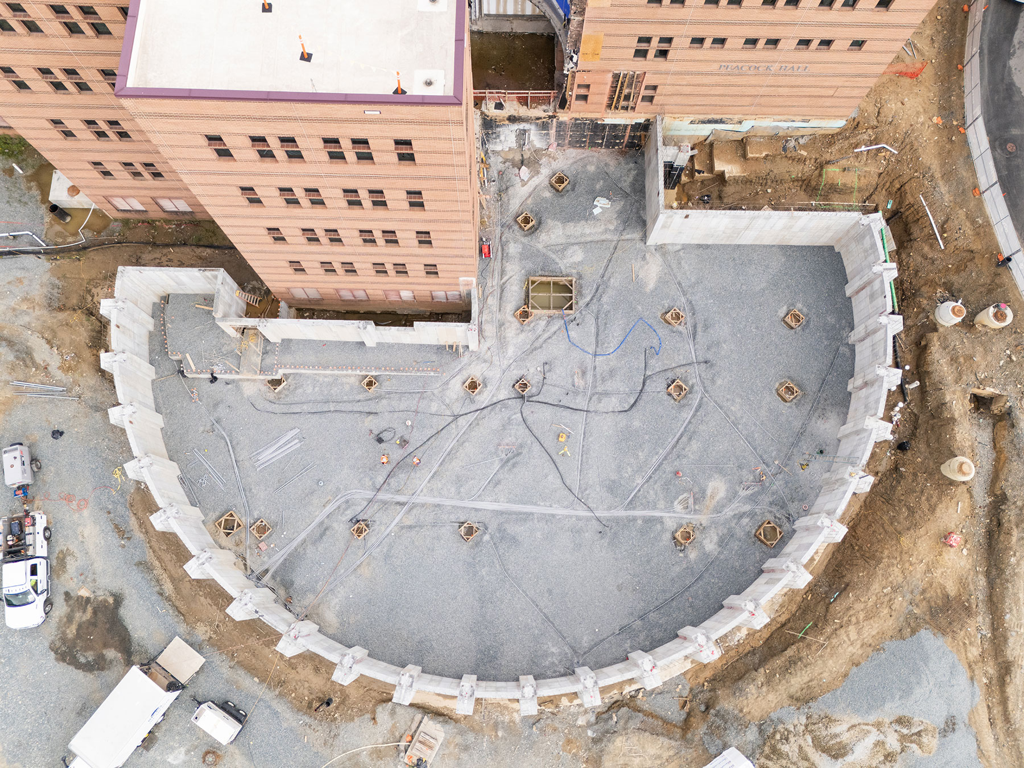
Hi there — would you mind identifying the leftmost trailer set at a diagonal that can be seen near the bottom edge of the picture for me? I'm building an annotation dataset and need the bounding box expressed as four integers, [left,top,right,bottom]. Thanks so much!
[69,630,211,768]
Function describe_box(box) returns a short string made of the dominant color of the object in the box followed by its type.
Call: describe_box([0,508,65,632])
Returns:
white truck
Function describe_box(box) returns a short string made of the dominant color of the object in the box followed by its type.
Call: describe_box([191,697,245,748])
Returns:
white trailer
